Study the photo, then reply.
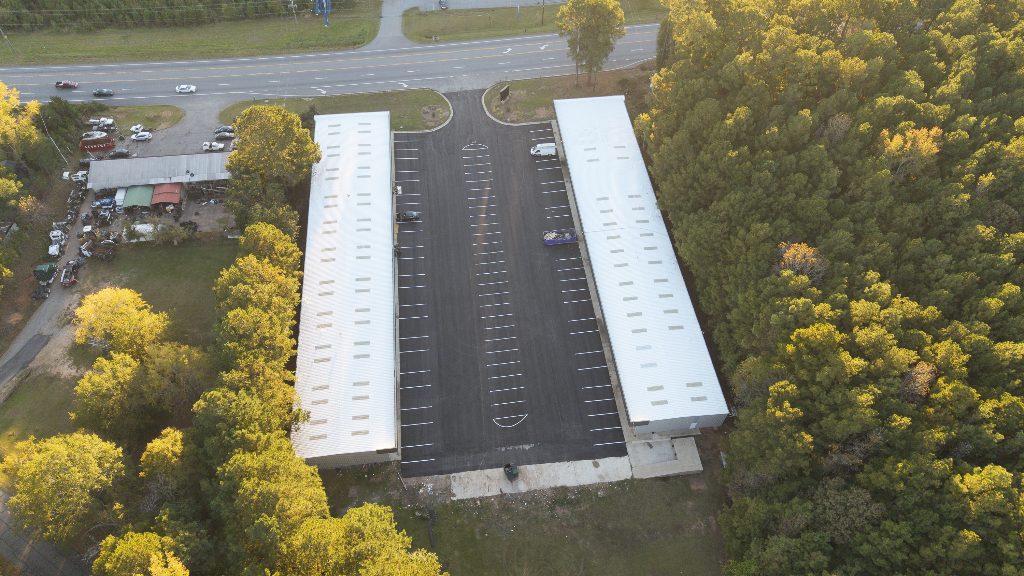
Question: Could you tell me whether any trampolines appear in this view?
No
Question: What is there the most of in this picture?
trees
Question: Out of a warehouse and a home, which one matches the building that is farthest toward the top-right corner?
warehouse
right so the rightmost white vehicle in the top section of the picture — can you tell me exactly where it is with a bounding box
[530,143,556,158]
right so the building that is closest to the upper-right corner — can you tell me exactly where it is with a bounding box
[552,95,729,433]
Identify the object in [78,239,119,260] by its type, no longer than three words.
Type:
truck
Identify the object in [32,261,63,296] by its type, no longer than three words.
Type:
truck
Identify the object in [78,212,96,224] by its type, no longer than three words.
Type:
vehicle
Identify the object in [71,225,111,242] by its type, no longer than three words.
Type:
work vehicle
